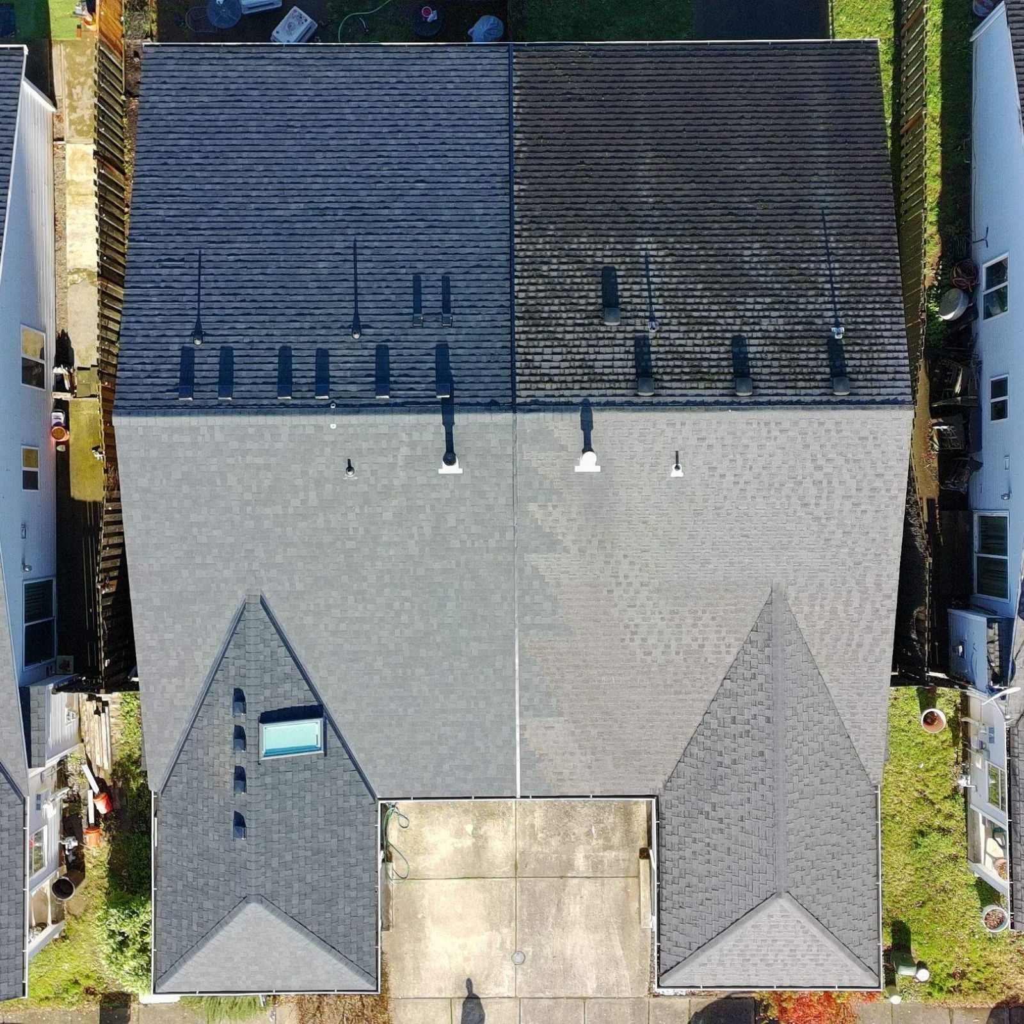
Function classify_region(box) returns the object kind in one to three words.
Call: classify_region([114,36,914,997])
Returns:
house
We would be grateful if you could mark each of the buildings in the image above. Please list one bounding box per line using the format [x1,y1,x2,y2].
[0,42,81,998]
[114,36,914,997]
[945,0,1024,927]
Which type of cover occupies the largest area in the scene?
buildings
